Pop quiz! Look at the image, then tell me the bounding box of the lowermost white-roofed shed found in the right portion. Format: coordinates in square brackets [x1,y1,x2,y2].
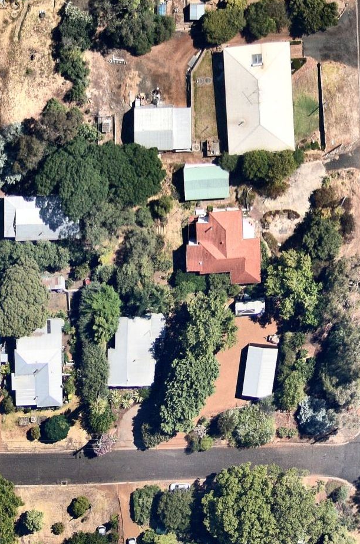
[241,342,278,398]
